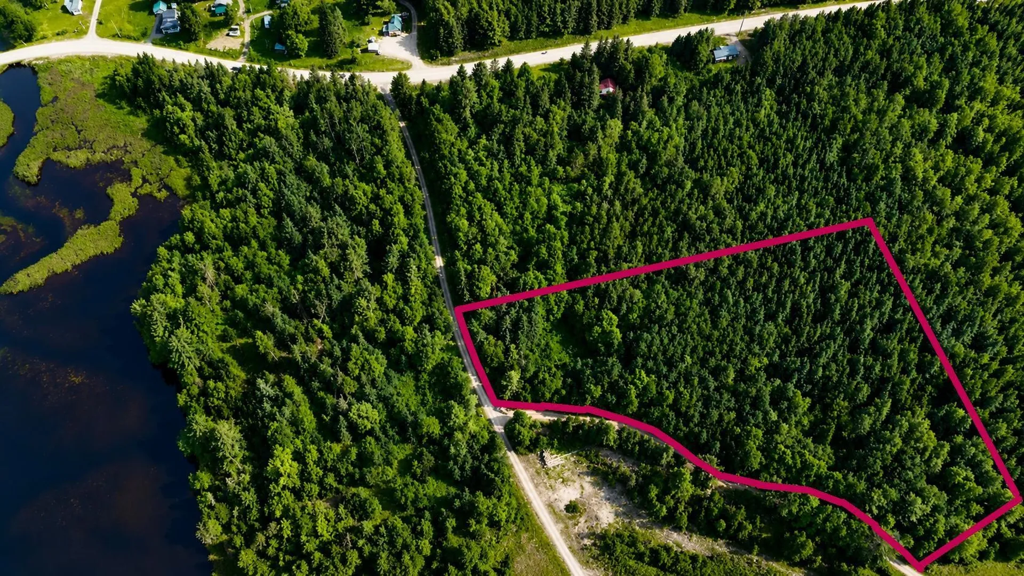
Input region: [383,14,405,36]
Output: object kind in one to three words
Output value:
house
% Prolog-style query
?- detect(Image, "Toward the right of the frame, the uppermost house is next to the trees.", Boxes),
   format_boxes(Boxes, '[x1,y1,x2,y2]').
[709,45,741,62]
